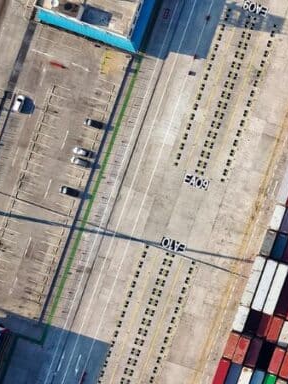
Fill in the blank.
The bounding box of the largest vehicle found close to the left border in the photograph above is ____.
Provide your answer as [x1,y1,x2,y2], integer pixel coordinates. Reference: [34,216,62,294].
[9,93,25,113]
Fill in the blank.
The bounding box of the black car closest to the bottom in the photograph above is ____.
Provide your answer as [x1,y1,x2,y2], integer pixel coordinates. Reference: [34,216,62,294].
[59,185,78,197]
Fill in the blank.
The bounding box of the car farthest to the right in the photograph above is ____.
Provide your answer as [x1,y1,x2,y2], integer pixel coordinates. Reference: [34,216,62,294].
[83,119,103,131]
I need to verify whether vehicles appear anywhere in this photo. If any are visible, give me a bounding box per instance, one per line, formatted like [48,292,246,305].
[71,144,90,157]
[69,155,88,167]
[9,93,25,113]
[59,185,78,197]
[83,119,103,131]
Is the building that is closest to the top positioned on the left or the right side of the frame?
left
